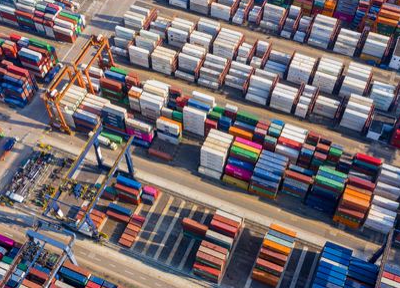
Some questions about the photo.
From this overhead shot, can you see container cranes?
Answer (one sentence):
Yes, a container crane is visible in the scene.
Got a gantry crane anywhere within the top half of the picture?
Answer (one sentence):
Yes, a gantry crane is visible within the top half of the picture.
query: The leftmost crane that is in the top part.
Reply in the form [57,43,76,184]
[40,66,90,128]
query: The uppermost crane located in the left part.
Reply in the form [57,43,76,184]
[69,34,115,87]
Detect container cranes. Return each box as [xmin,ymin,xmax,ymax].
[366,227,400,288]
[69,34,115,87]
[40,66,90,128]
[43,127,137,239]
[0,220,82,288]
